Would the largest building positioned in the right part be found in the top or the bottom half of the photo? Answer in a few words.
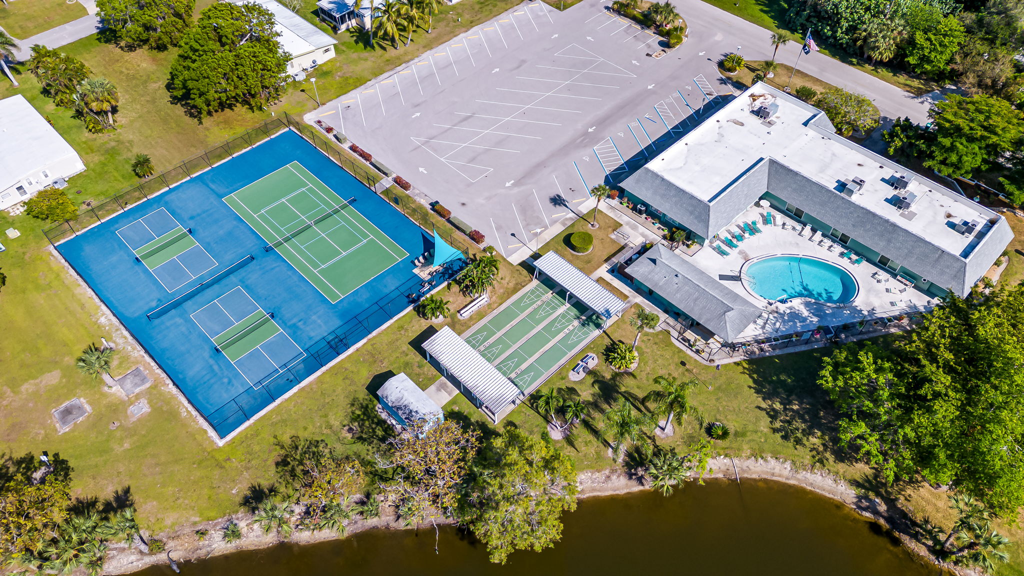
top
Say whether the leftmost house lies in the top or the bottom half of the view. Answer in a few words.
top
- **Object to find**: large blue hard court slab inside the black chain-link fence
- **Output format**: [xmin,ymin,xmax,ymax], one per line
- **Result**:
[51,125,471,452]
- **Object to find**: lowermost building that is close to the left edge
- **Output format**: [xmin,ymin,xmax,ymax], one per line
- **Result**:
[0,93,86,208]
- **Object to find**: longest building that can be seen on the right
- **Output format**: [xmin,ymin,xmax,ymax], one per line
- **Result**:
[618,81,1014,297]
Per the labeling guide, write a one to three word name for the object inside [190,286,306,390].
sports court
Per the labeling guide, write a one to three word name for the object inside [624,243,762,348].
building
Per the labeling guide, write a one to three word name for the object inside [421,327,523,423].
building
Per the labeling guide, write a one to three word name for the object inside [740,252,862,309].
swimming pool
